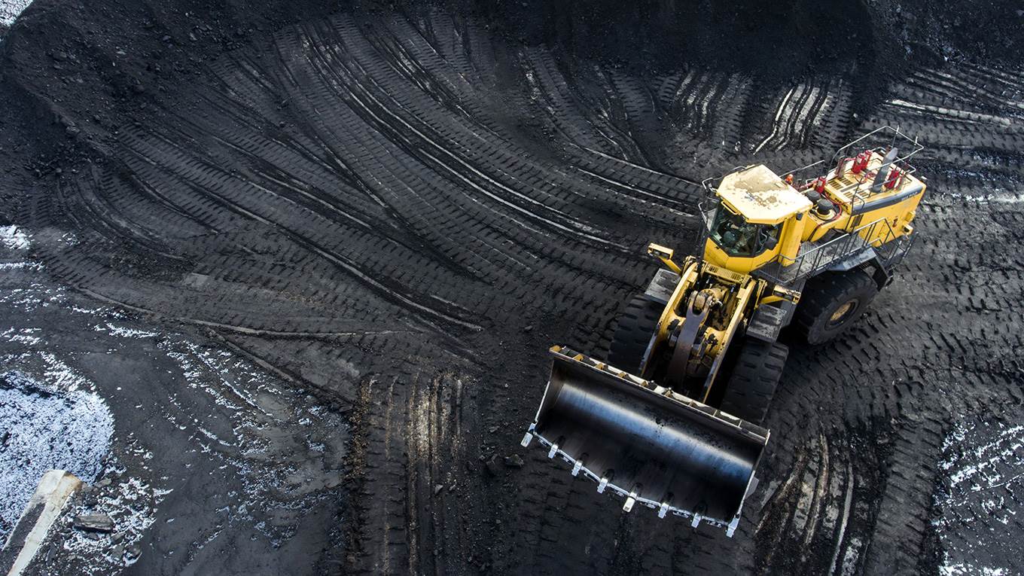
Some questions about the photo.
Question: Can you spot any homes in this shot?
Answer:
No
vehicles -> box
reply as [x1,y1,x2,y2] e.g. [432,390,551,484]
[522,125,927,538]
